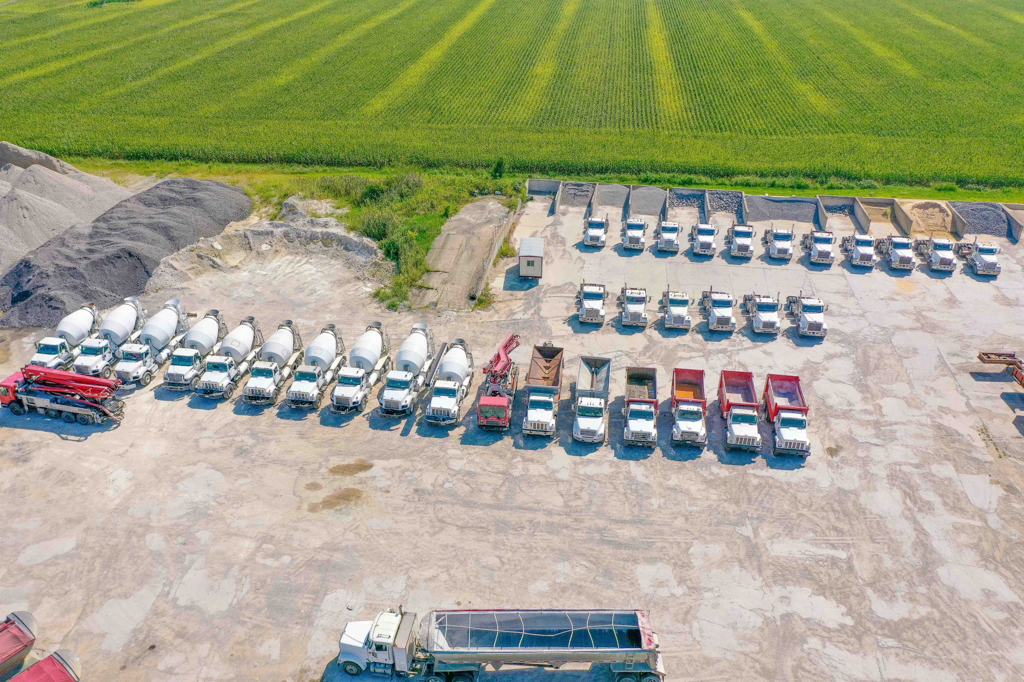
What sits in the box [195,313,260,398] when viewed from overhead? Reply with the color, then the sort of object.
white truck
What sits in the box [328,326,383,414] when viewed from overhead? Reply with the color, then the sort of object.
white truck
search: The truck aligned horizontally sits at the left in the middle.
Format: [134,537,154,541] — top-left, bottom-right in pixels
[0,369,124,429]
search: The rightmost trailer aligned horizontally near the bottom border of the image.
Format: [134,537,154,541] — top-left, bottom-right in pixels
[429,607,664,682]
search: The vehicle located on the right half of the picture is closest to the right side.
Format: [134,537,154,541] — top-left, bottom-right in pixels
[954,235,1003,275]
